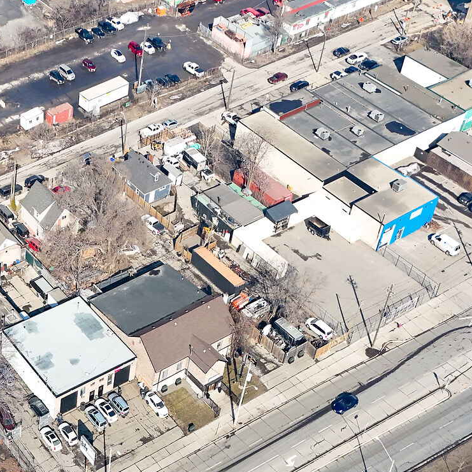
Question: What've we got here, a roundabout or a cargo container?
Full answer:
Looking from above, you can make out a cargo container.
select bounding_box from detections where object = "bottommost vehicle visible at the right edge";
[427,233,462,257]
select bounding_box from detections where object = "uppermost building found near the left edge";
[19,106,44,129]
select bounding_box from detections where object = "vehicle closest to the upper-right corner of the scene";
[452,0,470,19]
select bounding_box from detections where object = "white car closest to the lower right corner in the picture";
[304,318,336,342]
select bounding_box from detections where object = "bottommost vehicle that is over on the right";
[330,392,361,412]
